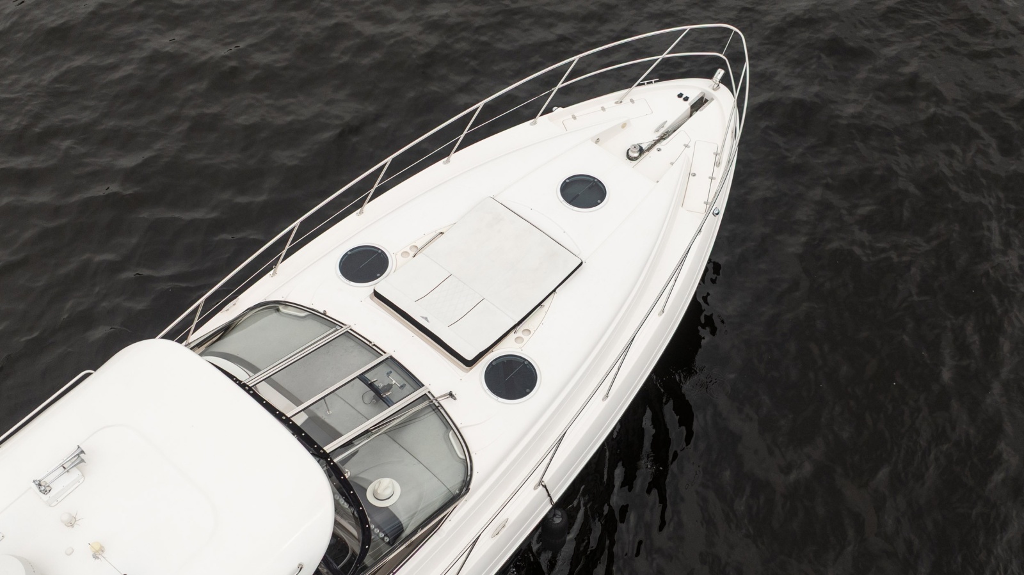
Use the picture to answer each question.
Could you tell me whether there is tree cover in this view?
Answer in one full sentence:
No, no tree cover is visible.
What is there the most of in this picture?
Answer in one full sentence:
What you mostly see from above here is water.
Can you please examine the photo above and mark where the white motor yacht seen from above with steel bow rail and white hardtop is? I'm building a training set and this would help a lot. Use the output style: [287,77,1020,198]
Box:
[0,23,749,575]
